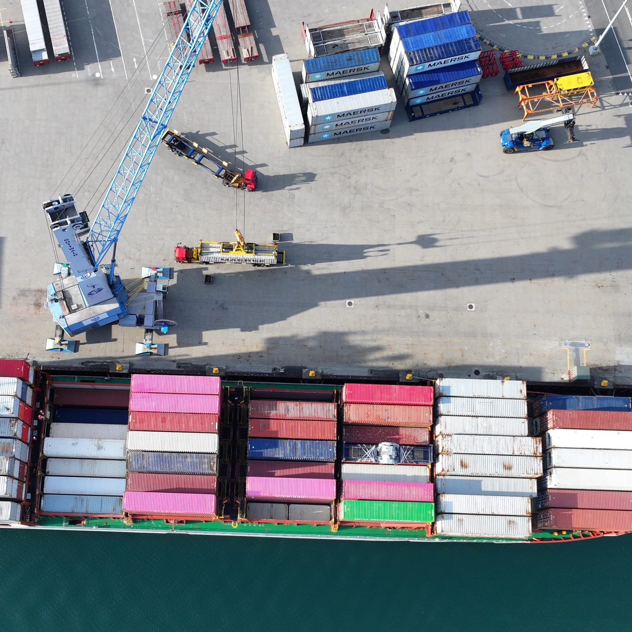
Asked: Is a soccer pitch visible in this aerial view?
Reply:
No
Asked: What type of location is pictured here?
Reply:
port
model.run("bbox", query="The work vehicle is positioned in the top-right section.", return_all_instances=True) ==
[502,108,579,155]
